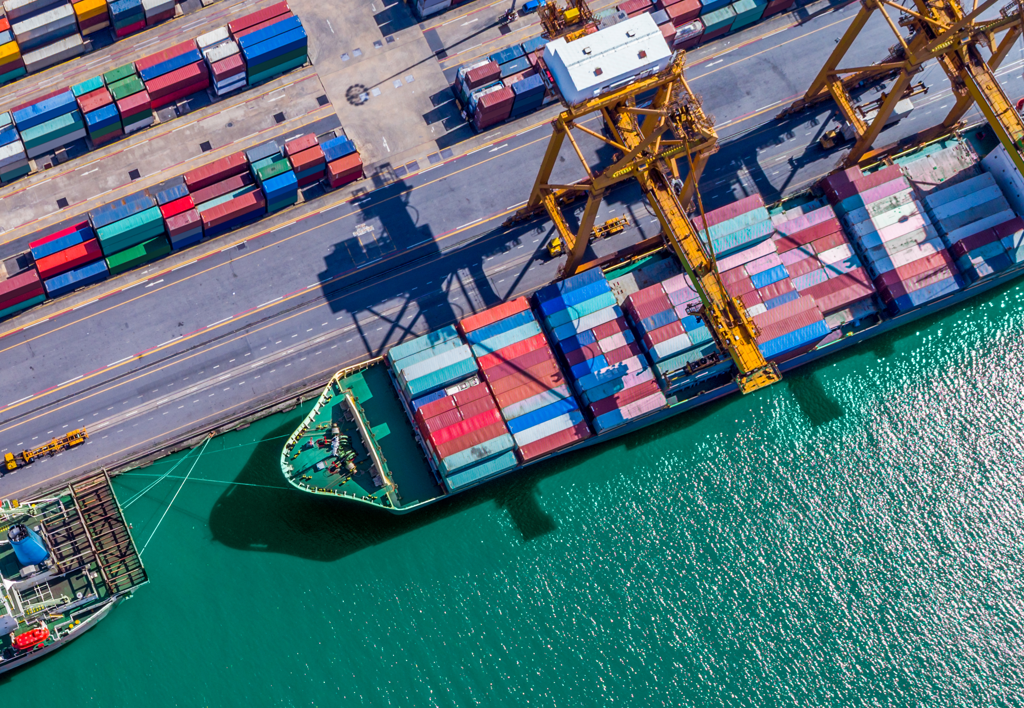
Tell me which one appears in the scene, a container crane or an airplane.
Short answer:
container crane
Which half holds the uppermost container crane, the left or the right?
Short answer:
right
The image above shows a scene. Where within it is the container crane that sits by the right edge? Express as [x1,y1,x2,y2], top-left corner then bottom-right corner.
[784,0,1024,184]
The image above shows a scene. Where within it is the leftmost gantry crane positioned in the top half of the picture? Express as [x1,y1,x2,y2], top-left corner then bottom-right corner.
[508,0,778,397]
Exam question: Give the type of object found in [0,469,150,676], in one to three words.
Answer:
ship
